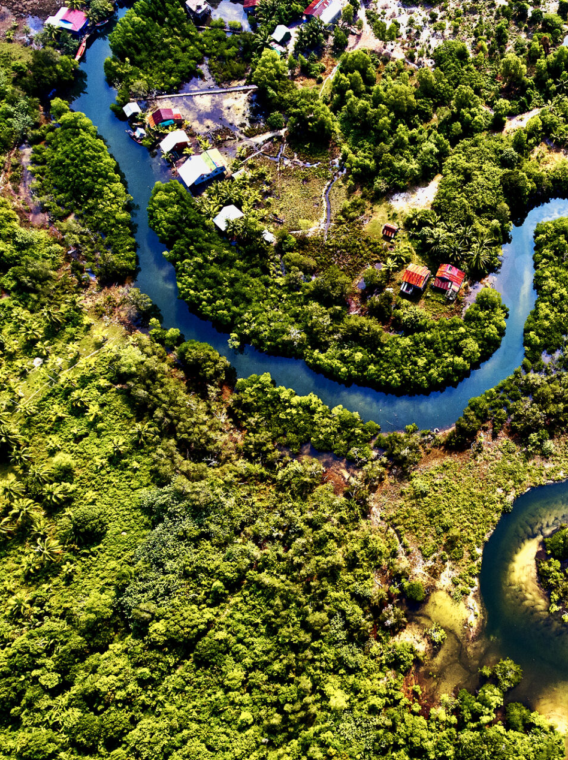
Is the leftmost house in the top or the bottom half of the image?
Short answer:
top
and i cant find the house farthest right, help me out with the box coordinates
[434,264,466,299]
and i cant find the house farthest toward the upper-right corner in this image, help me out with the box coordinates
[301,0,341,29]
